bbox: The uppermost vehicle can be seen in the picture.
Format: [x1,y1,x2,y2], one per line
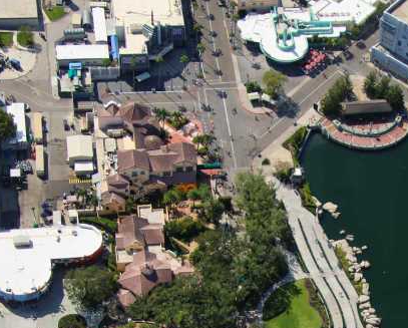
[69,0,83,12]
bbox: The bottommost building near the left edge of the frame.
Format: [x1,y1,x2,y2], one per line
[0,225,103,304]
